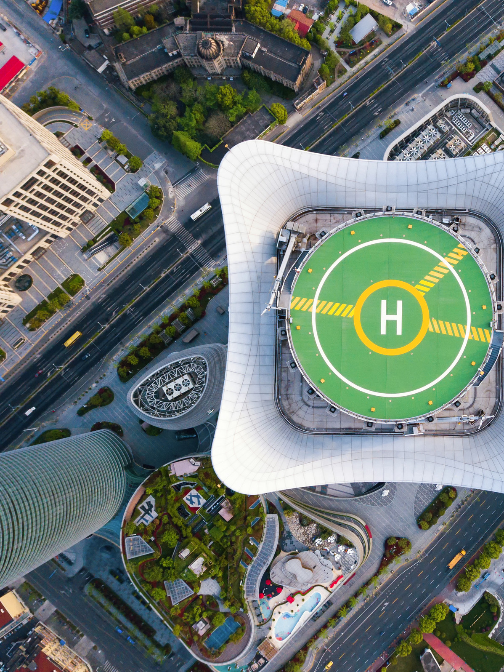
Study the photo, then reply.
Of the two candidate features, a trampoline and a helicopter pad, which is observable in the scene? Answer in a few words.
helicopter pad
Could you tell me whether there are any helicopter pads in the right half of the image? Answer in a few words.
Yes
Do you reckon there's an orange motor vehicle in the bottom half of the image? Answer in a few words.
Yes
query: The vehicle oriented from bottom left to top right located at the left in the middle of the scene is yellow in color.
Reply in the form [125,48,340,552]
[63,331,82,347]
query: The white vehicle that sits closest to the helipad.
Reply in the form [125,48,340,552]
[190,202,212,220]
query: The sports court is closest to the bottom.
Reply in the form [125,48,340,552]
[204,615,239,649]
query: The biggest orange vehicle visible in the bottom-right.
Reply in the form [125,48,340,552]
[447,549,466,569]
